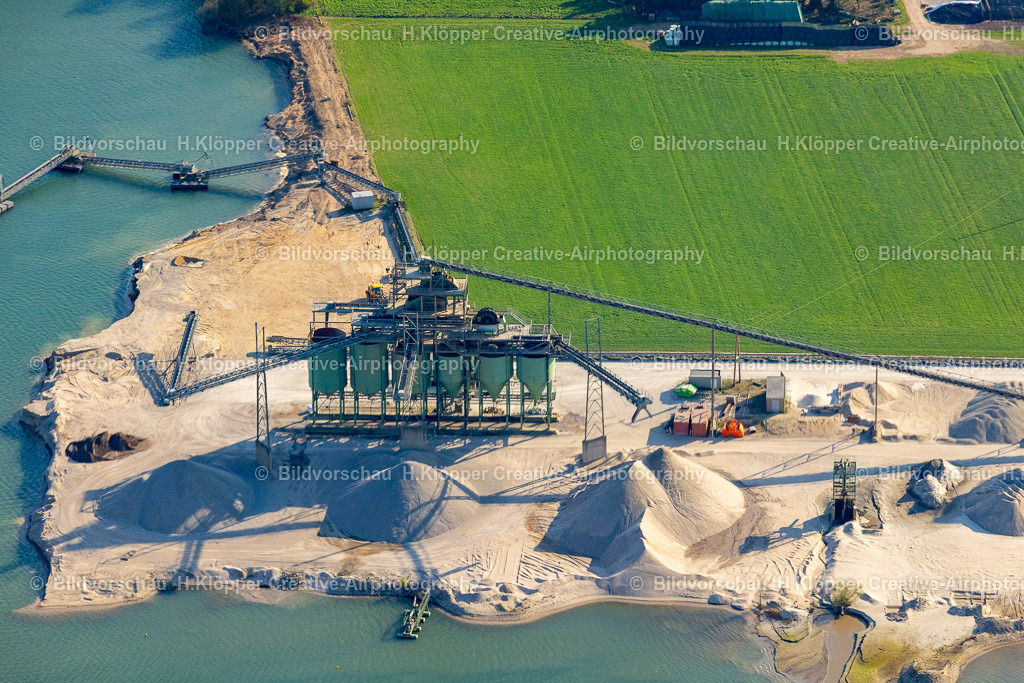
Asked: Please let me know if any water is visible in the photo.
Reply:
Yes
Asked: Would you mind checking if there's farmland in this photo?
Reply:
Yes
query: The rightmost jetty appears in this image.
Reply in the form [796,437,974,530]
[399,577,443,637]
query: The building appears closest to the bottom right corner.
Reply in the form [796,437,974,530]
[765,370,788,413]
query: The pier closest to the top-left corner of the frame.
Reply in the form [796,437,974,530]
[50,130,95,171]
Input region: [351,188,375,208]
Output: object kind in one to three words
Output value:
shed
